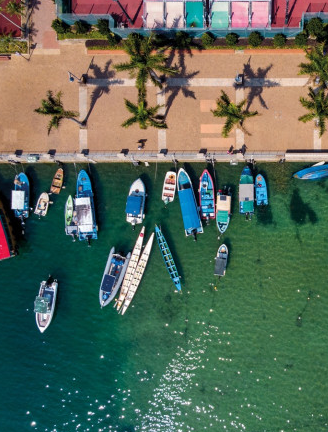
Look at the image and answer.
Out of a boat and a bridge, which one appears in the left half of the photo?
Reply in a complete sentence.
Visible in the left half of the photo is a boat.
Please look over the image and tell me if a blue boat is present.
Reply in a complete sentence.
Yes, the picture does show a blue boat.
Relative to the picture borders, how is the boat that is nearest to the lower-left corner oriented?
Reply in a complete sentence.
In this picture, the boat that is nearest to the lower-left corner is oriented vertically.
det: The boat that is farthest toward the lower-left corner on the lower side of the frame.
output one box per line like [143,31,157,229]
[35,274,57,334]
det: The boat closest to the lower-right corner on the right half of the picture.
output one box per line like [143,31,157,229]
[215,243,228,280]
